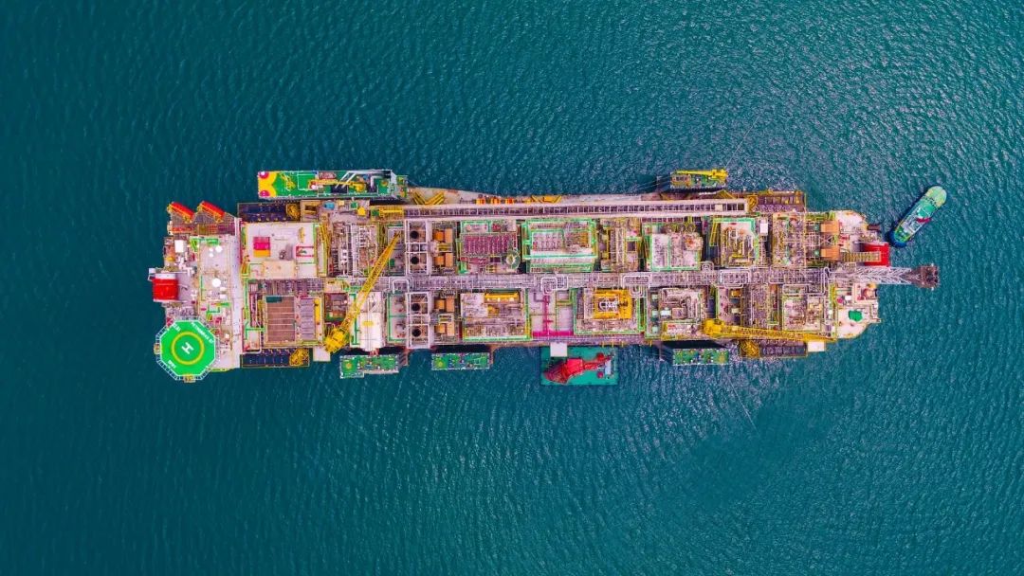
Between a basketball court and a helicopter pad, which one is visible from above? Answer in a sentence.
It is a helicopter pad that can be seen here.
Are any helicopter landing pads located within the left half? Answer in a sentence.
Yes, you'll find a helicopter landing pad within the left half.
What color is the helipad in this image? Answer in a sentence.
In this view, the helipad is green.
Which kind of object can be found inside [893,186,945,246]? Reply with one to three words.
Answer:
boat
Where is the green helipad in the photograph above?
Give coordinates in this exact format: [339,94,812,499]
[154,316,226,381]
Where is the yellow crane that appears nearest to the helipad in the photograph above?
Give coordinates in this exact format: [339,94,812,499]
[322,231,404,355]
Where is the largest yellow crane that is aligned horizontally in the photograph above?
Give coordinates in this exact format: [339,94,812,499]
[703,312,839,343]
